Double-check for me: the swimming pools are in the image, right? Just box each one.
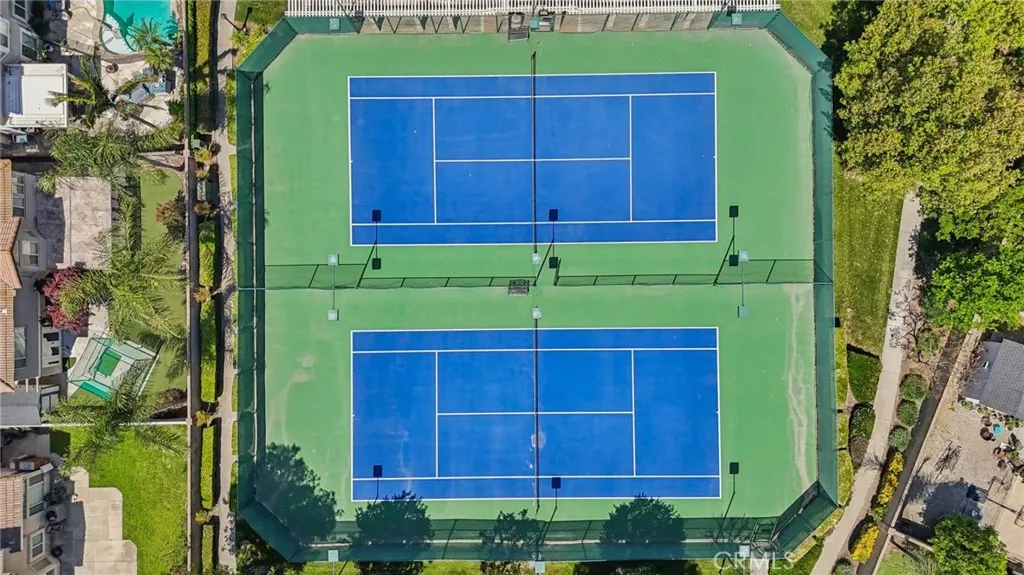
[95,0,182,59]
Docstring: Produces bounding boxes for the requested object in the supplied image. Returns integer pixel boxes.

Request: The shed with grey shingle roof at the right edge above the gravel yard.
[961,339,1024,416]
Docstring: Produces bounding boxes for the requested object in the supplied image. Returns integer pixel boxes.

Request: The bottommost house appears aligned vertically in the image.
[0,449,61,575]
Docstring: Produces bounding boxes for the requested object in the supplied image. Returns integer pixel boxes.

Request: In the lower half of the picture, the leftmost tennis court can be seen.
[351,327,722,501]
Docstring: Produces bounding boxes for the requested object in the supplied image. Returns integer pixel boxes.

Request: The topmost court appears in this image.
[348,71,718,246]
